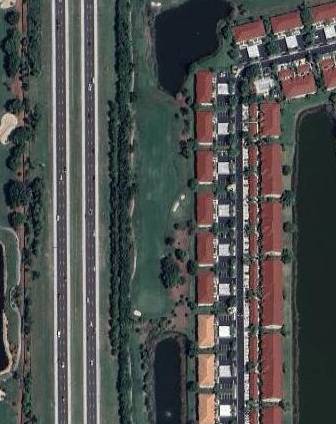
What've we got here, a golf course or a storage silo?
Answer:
golf course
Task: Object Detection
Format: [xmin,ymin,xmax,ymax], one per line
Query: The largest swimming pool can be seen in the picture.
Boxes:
[255,78,274,95]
